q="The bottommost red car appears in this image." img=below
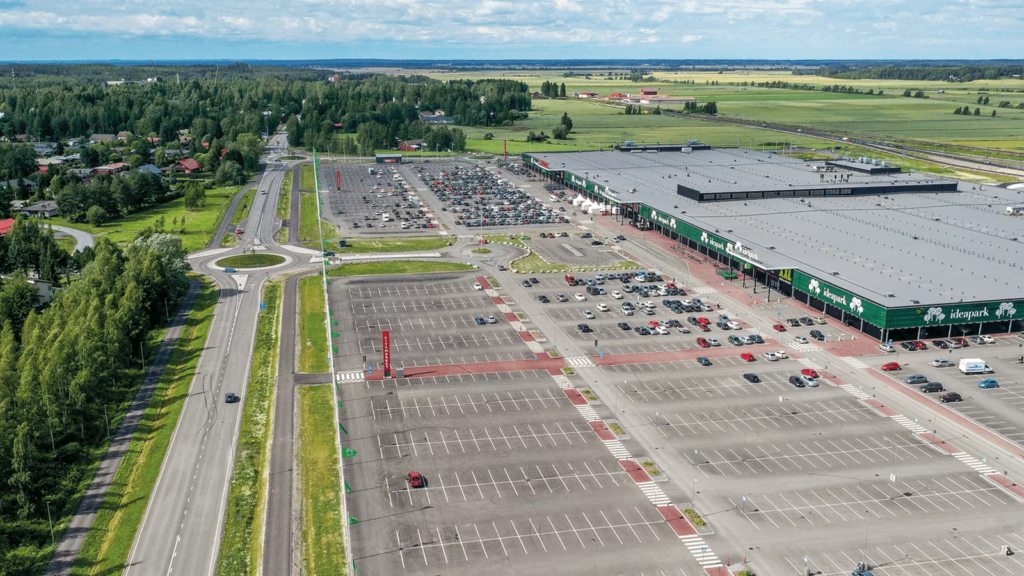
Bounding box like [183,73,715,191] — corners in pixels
[405,473,425,490]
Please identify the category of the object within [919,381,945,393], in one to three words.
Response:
vehicle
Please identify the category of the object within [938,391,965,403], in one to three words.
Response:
vehicle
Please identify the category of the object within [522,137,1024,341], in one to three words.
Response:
building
